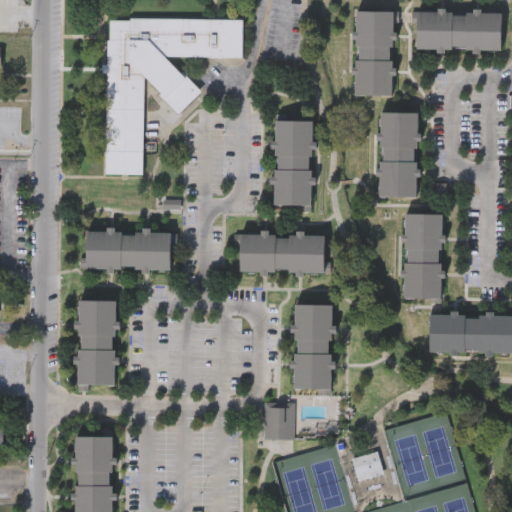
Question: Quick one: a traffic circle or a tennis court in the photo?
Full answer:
It is a tennis court that can be seen here.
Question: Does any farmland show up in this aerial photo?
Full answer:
No, the scene doesn't show any farmland.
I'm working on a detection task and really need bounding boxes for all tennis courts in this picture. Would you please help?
[276,454,322,512]
[370,492,440,512]
[386,422,435,500]
[418,416,466,490]
[306,446,354,512]
[434,484,474,512]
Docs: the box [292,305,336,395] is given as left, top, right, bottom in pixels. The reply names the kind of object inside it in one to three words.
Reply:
building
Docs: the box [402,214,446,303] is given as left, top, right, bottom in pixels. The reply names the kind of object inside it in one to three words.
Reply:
building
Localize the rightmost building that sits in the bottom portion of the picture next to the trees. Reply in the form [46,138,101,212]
[430,313,512,356]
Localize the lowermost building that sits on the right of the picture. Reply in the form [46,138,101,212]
[354,452,384,482]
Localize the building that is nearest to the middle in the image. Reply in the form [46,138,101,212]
[238,231,330,276]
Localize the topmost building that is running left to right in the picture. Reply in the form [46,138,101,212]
[413,8,504,54]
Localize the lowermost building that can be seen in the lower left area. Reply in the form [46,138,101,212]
[72,438,116,512]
